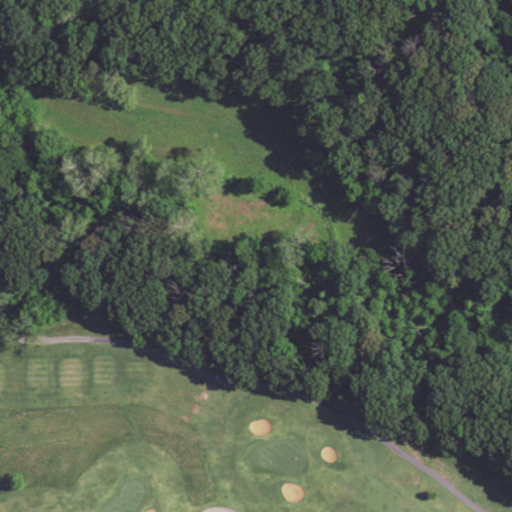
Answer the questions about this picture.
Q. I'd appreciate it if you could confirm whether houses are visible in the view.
No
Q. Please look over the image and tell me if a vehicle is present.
No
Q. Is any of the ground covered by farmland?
No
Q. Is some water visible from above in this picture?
No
